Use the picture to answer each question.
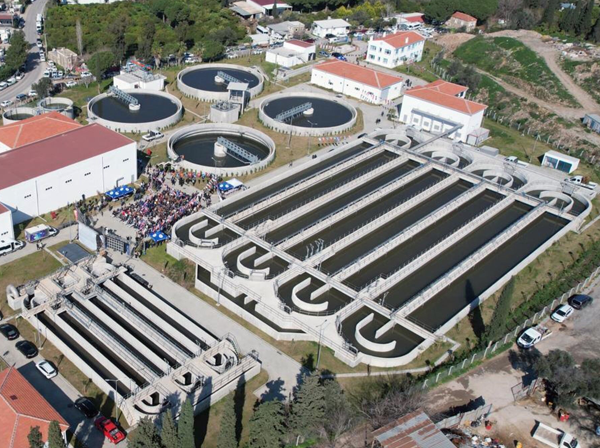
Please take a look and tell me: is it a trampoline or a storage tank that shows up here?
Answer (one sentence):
Visible in the photo is a storage tank.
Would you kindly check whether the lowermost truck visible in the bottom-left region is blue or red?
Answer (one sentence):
From above, the lowermost truck visible in the bottom-left region appears red.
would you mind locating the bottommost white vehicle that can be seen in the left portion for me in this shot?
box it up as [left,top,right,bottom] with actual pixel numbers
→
[33,355,60,377]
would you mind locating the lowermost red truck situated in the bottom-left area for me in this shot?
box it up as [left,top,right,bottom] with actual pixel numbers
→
[93,412,129,446]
